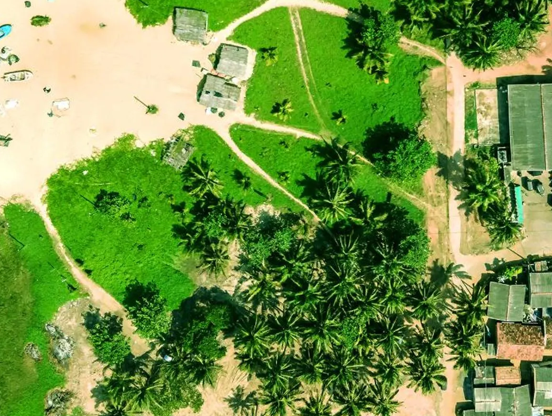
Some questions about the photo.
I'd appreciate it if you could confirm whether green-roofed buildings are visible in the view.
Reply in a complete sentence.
Yes, I can see a green-roofed building in this picture.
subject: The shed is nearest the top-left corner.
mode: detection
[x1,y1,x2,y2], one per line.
[174,7,208,43]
